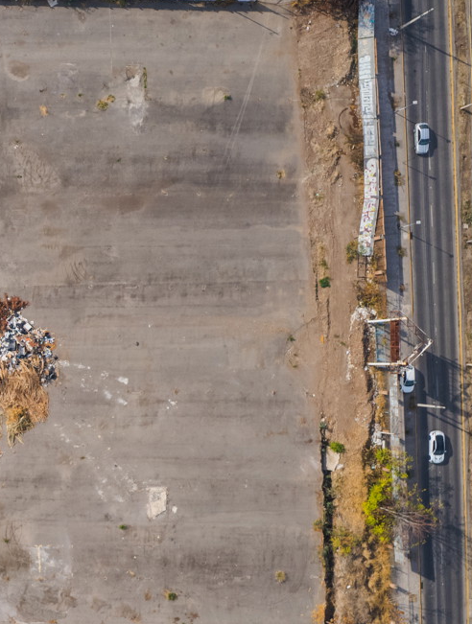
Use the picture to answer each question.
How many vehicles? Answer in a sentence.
Looking from above, you can make out 3 vehicles.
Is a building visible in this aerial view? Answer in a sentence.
No, I can see no building in this picture.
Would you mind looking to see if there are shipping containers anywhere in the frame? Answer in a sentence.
No, the scene contains no shipping container.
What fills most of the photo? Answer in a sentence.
The largest share of the image is taken up by paved ground.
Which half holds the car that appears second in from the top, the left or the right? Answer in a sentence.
The car that appears second in from the top is on the right side of the image.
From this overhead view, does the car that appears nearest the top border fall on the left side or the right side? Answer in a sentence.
The car that appears nearest the top border is on the right side of the image.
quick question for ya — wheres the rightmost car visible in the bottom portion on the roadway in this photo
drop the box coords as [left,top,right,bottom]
[424,429,444,464]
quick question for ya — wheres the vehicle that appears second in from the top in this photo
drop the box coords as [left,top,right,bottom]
[395,364,416,395]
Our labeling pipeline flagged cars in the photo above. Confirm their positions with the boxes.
[424,429,444,464]
[395,364,416,395]
[410,121,430,158]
